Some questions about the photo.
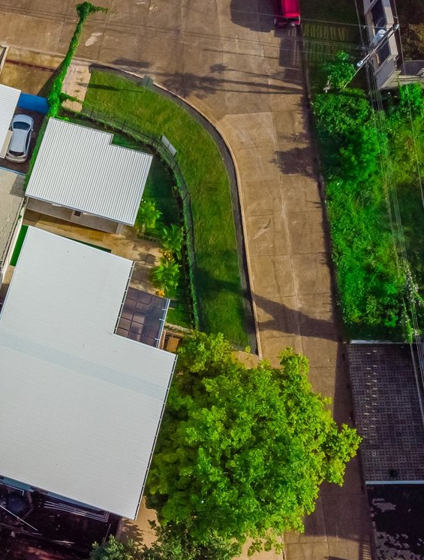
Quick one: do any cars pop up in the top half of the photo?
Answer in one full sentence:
Yes, a car appears in the top half of the photo.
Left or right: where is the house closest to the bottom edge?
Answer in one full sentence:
The house closest to the bottom edge sits on the left side.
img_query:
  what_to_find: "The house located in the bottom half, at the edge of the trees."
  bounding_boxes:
[0,224,183,521]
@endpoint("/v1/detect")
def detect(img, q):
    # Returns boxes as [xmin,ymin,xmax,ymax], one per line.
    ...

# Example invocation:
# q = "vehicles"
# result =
[6,111,35,164]
[275,0,305,29]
